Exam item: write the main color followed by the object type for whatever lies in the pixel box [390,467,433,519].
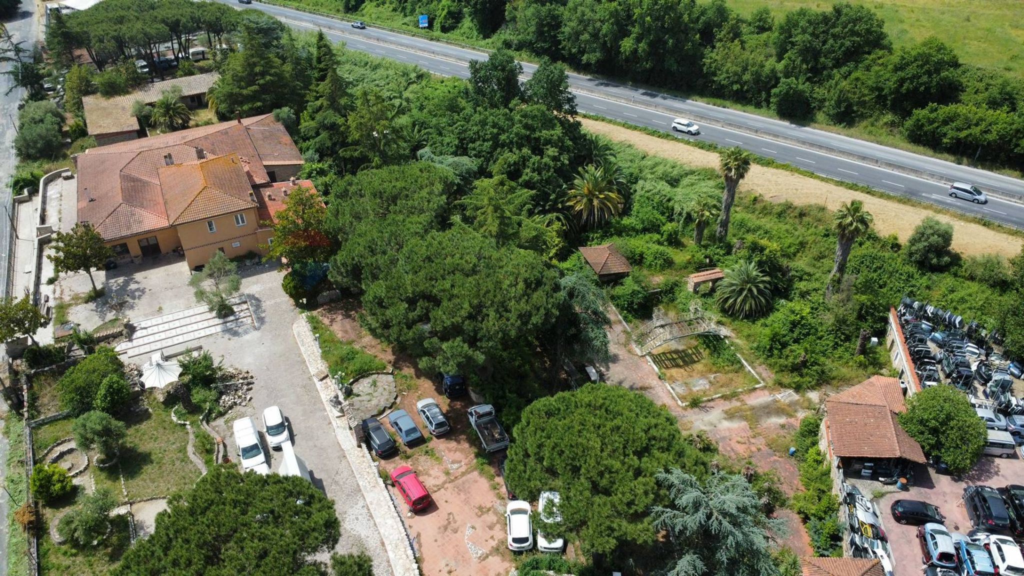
red car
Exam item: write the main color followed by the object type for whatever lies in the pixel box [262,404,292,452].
white car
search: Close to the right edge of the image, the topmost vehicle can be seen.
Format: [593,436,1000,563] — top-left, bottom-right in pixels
[947,182,987,204]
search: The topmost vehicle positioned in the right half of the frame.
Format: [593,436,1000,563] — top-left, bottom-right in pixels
[671,118,699,135]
